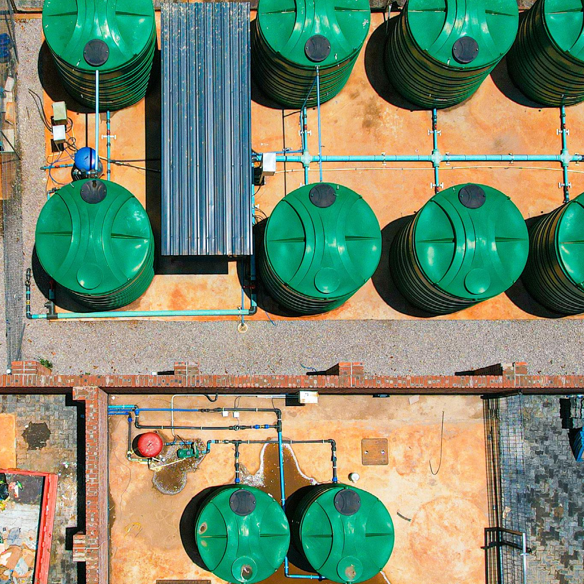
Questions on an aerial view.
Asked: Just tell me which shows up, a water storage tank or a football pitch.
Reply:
water storage tank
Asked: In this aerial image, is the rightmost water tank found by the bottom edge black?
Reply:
No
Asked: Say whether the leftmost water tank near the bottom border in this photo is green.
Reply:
Yes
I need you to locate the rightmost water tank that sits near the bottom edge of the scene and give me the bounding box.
[291,482,394,584]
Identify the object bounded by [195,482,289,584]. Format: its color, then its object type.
green water tank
